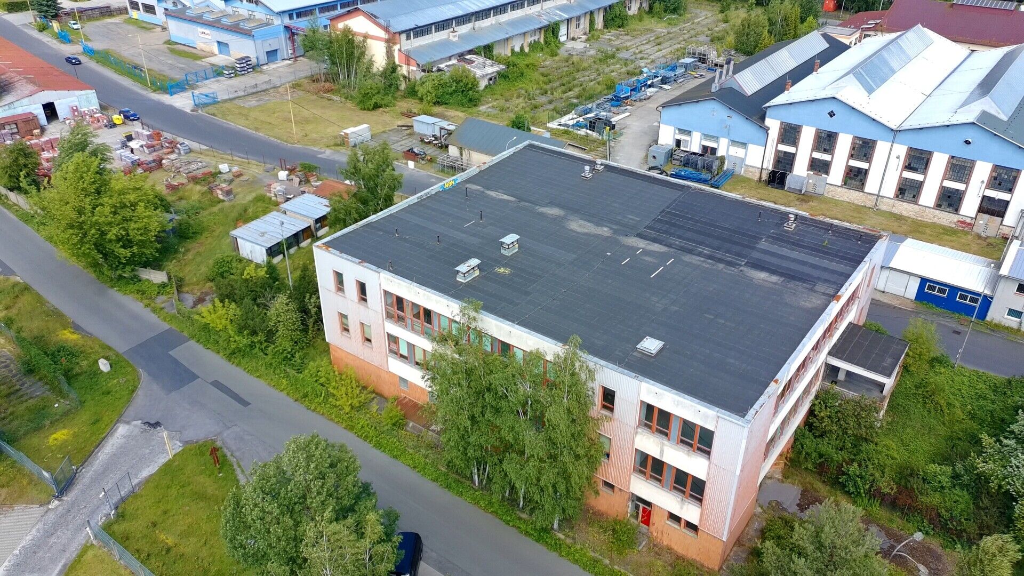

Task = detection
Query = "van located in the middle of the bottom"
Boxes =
[385,533,425,576]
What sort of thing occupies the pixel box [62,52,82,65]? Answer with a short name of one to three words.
vehicle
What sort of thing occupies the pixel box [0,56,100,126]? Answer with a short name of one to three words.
shed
